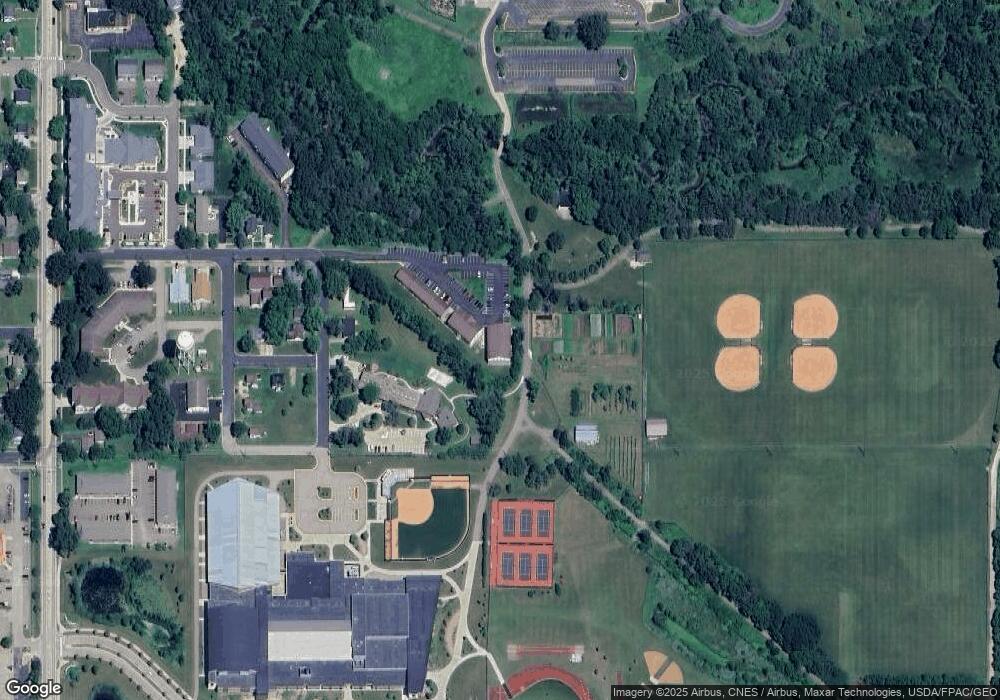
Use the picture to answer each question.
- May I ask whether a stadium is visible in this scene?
Yes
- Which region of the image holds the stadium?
bottom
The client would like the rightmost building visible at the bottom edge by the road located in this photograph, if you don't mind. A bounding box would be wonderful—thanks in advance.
[207,477,441,699]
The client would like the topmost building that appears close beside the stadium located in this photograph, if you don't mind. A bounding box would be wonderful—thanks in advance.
[361,372,457,427]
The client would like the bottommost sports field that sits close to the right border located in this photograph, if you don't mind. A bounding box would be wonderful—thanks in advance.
[645,447,989,676]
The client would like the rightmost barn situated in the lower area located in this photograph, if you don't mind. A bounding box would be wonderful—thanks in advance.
[646,420,667,435]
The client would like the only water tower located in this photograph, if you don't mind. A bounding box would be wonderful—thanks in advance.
[173,334,196,380]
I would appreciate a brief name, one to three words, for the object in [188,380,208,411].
house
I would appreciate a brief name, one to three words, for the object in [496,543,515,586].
tennis court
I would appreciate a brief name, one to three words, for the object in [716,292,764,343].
baseball field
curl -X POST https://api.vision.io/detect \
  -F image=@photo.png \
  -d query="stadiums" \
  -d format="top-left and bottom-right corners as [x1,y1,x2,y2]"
[385,474,471,561]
